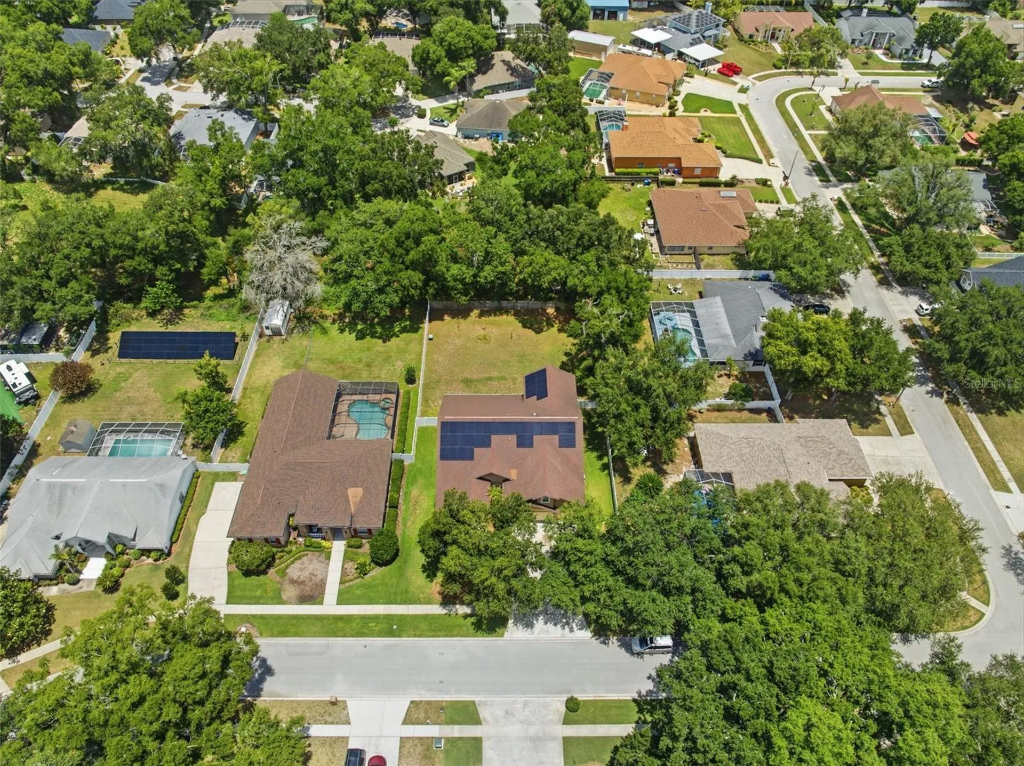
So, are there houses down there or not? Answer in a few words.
Yes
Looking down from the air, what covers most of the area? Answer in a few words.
trees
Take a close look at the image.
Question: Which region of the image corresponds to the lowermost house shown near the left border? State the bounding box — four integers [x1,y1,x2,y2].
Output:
[0,450,196,585]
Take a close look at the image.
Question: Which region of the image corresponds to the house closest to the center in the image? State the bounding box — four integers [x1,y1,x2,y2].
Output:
[435,365,586,520]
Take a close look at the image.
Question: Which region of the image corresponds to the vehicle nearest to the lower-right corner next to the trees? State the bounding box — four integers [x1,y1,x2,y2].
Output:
[630,636,675,657]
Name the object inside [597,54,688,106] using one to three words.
house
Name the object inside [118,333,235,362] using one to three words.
solar array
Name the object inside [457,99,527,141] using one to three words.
building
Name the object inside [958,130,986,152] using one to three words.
gazebo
